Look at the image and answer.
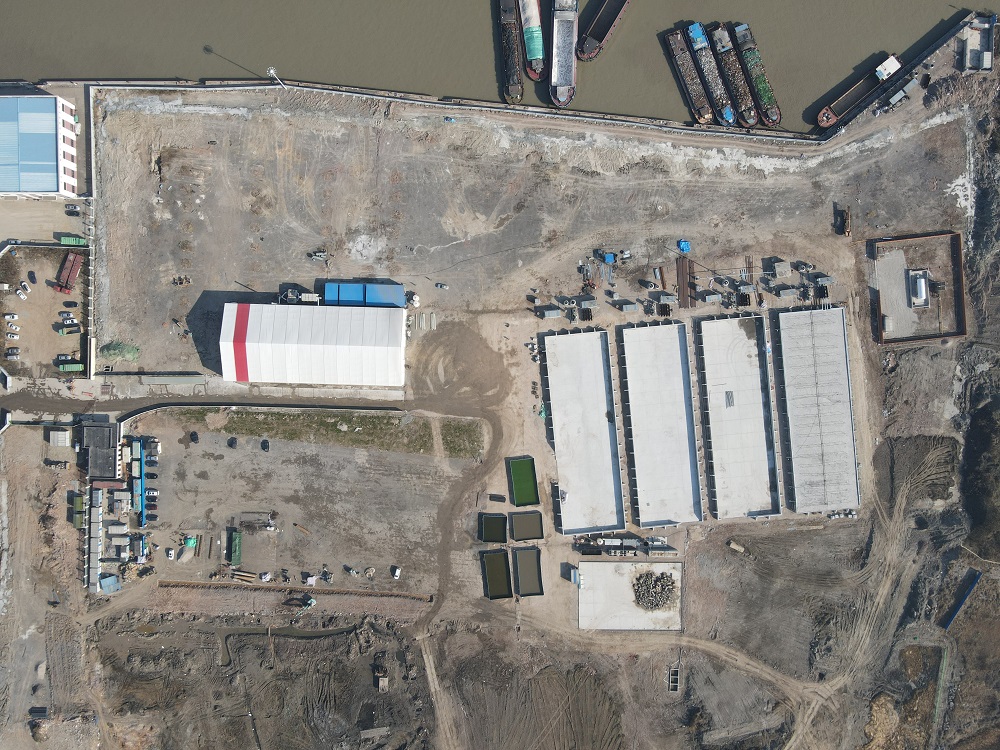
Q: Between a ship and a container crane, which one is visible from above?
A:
ship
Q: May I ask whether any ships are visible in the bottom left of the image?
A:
No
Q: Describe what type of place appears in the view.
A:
industrial area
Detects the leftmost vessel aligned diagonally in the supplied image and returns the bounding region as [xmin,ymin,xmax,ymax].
[580,0,630,60]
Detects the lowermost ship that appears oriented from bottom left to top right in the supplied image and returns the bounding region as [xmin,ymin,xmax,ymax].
[814,51,908,127]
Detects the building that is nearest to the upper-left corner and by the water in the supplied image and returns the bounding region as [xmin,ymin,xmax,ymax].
[0,96,75,201]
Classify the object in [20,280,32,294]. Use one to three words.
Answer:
vehicle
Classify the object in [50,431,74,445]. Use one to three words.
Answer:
shed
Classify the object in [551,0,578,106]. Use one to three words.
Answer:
ship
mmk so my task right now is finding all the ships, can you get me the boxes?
[499,0,524,104]
[666,30,712,124]
[687,20,734,127]
[710,23,757,128]
[580,0,630,60]
[551,0,578,106]
[814,51,908,127]
[521,0,548,81]
[734,21,778,128]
